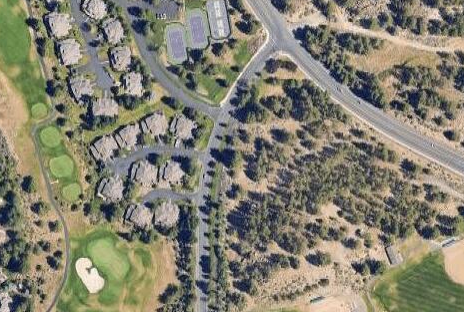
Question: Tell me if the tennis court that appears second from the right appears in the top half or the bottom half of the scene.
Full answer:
You can find the tennis court that appears second from the right in the top half.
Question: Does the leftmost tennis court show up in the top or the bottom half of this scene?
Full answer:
It is in the top half that the leftmost tennis court appears.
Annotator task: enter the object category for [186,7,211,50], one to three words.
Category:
tennis court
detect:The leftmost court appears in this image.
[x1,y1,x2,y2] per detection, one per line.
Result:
[165,22,190,66]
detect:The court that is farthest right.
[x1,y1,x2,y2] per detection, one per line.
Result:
[205,0,232,41]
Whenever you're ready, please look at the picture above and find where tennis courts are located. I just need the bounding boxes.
[186,7,211,50]
[205,0,232,41]
[165,22,190,66]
